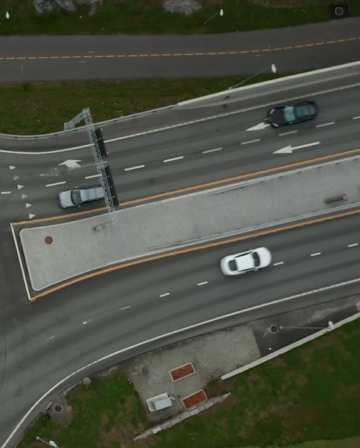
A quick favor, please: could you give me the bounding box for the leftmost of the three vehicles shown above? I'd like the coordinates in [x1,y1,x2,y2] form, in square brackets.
[61,187,106,209]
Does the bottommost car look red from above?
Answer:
No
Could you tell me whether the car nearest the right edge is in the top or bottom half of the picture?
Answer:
top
